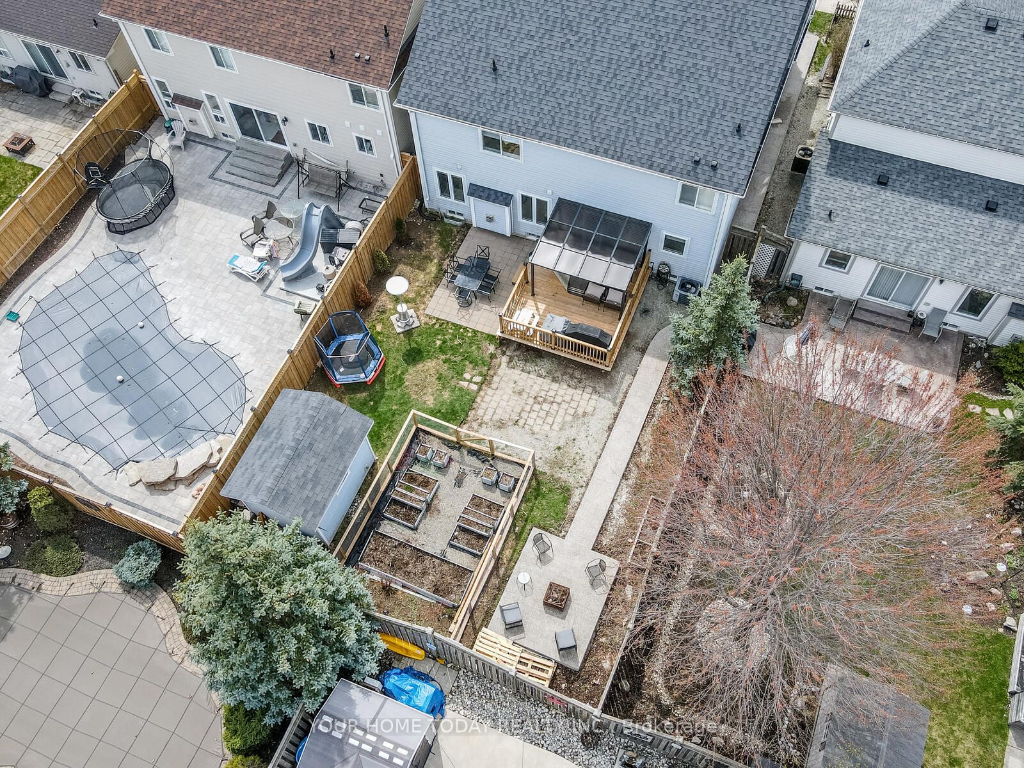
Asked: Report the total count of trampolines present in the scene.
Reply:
two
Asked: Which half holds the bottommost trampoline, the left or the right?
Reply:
left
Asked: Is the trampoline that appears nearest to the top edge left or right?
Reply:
left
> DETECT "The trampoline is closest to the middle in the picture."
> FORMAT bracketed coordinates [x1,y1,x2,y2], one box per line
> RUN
[312,314,383,388]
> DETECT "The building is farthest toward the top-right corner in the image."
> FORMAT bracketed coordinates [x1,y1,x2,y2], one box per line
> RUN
[781,0,1024,355]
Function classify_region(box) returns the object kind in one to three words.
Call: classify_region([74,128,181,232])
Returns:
trampoline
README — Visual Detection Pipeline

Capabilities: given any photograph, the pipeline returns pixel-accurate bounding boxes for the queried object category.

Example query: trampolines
[74,128,181,232]
[312,314,383,388]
